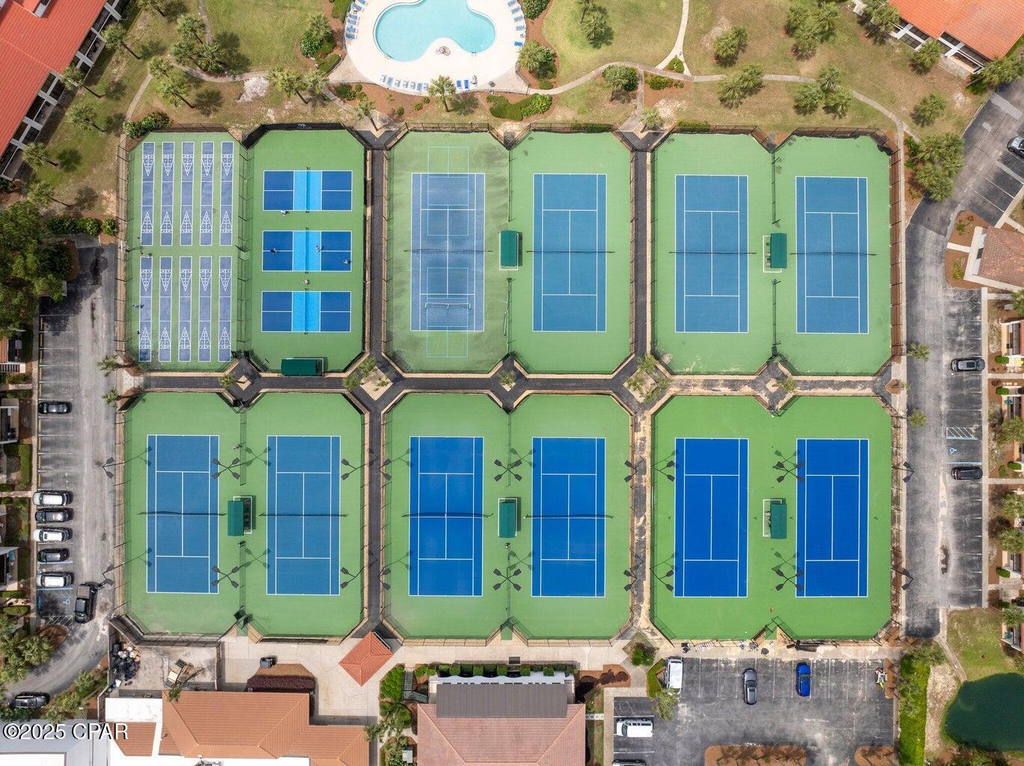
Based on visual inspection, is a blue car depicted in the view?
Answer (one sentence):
Yes, this view includes a blue car.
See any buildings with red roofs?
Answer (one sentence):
Yes, the image includes a building with a red roof.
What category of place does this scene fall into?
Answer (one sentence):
This image shows a sports ground.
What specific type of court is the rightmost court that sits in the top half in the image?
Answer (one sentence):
The rightmost court that sits in the top half appears to be a tennis court.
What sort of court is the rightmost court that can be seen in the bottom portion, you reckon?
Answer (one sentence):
What you see as the rightmost court that can be seen in the bottom portion is a tennis court.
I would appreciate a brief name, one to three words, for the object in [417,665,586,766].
building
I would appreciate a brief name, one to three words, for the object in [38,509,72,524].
car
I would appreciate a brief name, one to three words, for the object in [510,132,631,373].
tennis court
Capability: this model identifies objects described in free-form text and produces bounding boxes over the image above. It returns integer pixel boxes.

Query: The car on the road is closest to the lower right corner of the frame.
[796,663,812,695]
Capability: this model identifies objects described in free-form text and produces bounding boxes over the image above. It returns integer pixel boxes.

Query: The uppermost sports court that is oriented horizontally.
[263,169,352,211]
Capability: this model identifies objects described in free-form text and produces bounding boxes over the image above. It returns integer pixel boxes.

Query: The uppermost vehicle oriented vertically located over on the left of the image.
[75,583,95,622]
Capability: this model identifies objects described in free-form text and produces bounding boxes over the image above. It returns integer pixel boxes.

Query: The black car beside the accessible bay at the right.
[950,465,983,481]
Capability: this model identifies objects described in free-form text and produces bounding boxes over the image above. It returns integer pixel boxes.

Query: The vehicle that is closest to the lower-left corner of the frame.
[13,692,50,709]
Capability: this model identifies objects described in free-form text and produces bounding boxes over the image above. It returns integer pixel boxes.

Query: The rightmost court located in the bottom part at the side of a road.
[773,397,892,641]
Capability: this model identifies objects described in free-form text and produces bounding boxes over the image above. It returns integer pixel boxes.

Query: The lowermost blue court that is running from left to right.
[261,291,351,333]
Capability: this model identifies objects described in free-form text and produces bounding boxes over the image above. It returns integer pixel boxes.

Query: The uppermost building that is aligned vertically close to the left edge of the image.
[0,38,68,200]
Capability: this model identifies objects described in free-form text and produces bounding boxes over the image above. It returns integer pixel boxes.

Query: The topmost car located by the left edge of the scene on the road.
[40,400,73,415]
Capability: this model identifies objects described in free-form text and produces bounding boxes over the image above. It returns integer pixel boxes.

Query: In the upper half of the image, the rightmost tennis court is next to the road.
[773,135,891,375]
